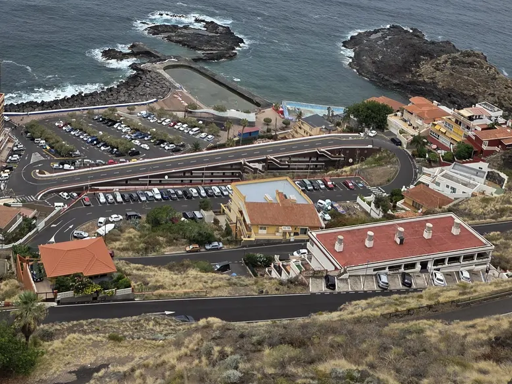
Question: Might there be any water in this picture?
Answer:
Yes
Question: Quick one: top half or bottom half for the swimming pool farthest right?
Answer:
top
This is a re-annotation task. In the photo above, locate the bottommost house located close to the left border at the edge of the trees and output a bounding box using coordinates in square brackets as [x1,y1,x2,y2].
[18,236,134,299]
